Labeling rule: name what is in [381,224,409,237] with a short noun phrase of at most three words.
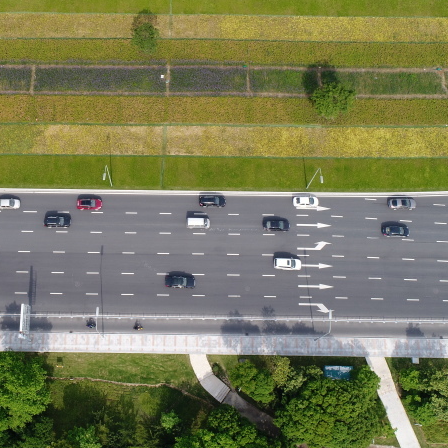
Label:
vehicle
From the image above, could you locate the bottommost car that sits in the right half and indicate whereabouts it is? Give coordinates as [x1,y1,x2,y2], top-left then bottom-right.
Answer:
[274,257,302,271]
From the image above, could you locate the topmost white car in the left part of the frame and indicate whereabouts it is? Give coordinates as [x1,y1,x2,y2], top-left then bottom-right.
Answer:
[0,197,19,209]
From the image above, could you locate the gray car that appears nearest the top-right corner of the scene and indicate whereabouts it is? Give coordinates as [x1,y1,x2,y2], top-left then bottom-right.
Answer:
[389,197,416,210]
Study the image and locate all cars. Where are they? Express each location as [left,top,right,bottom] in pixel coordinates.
[389,197,416,210]
[263,218,290,231]
[274,257,302,271]
[198,195,225,207]
[43,214,70,227]
[0,197,19,209]
[293,196,320,209]
[77,197,101,210]
[381,224,409,237]
[166,275,194,288]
